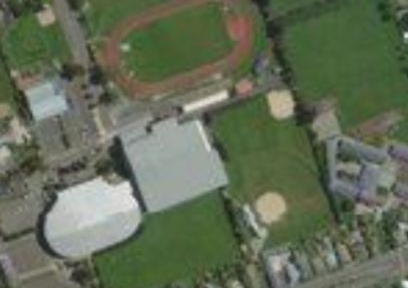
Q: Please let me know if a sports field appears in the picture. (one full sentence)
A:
Yes, there's a sports field here.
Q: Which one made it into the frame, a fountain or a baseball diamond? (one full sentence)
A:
Visible in the photo is a baseball diamond.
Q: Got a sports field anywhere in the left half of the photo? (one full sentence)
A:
Yes, there is a sports field in the left half of the photo.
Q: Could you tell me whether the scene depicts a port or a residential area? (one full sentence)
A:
The picture captures a residential area.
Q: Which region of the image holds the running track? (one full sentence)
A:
The running track sits in the top section of the image.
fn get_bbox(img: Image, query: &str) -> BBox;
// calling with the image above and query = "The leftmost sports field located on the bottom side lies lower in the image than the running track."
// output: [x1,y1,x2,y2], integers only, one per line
[94,189,242,288]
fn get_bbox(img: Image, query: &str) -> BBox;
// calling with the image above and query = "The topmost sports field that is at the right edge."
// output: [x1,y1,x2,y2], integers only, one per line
[276,0,408,148]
